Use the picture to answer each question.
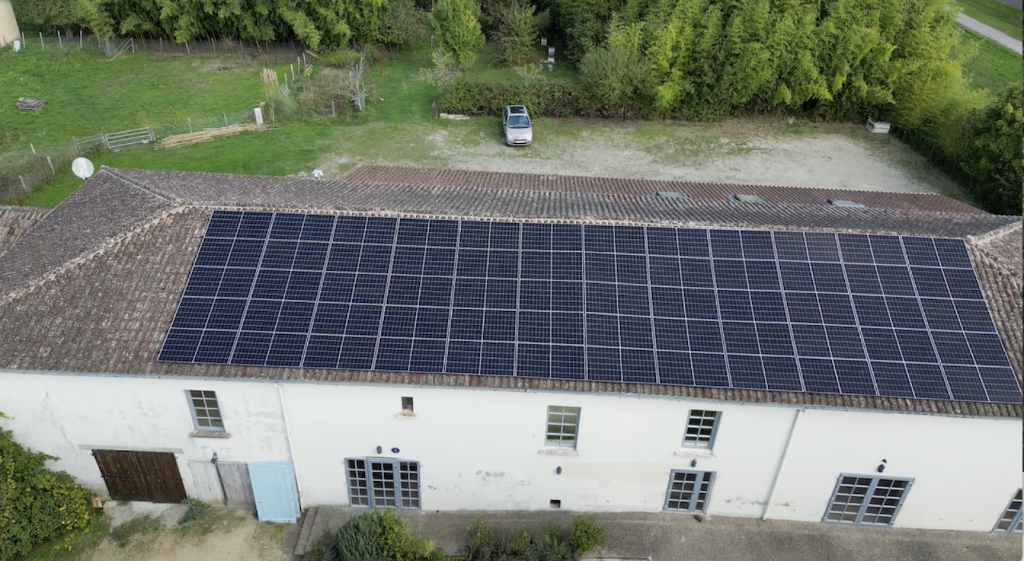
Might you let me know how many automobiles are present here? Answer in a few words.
1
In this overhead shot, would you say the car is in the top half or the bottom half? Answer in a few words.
top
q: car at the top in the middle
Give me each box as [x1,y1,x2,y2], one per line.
[502,107,534,146]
